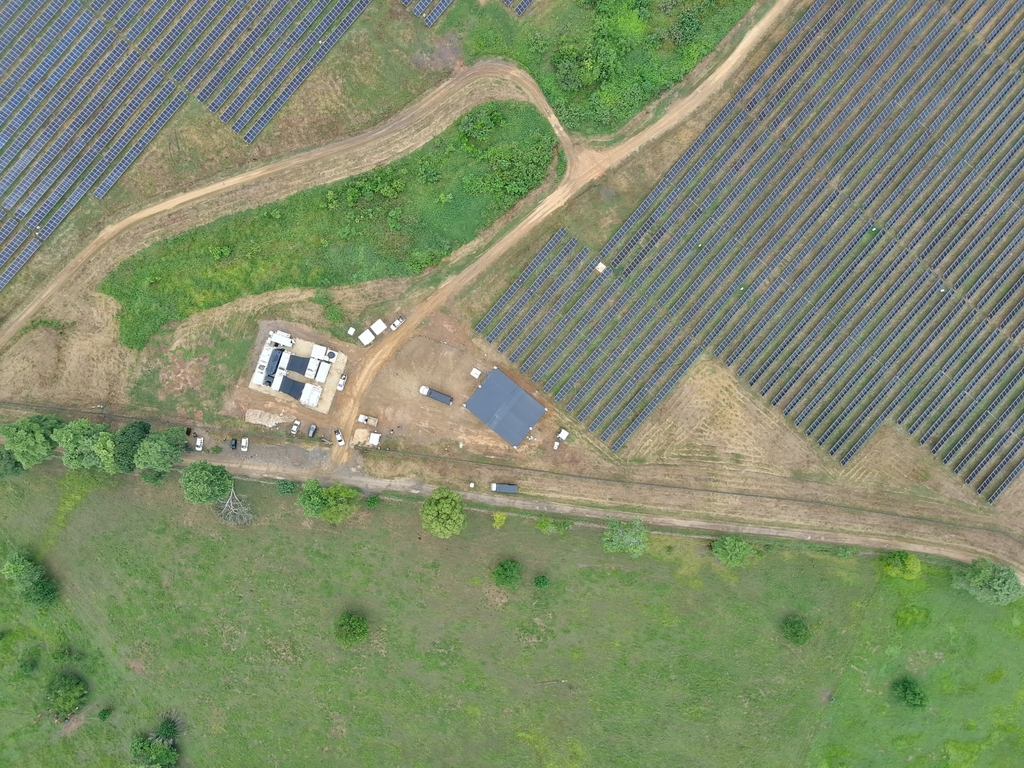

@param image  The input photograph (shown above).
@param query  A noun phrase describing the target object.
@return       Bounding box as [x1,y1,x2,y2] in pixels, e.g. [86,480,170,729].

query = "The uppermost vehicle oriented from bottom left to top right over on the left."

[390,316,406,331]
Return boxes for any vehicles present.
[196,437,205,451]
[491,482,518,493]
[241,437,249,451]
[308,423,317,438]
[390,316,406,331]
[231,438,238,449]
[419,386,454,405]
[338,373,348,391]
[291,419,301,434]
[334,428,345,446]
[357,414,379,427]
